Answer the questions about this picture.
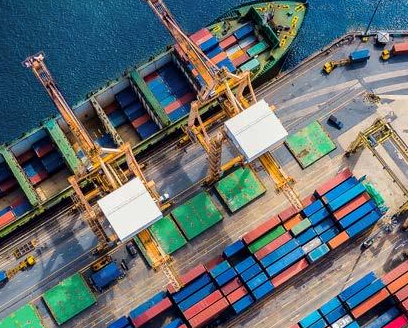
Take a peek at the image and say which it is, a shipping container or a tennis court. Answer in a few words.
shipping container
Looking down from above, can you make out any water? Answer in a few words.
Yes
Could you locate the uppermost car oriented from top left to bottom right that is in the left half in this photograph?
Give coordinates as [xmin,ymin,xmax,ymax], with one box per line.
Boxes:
[124,239,139,257]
